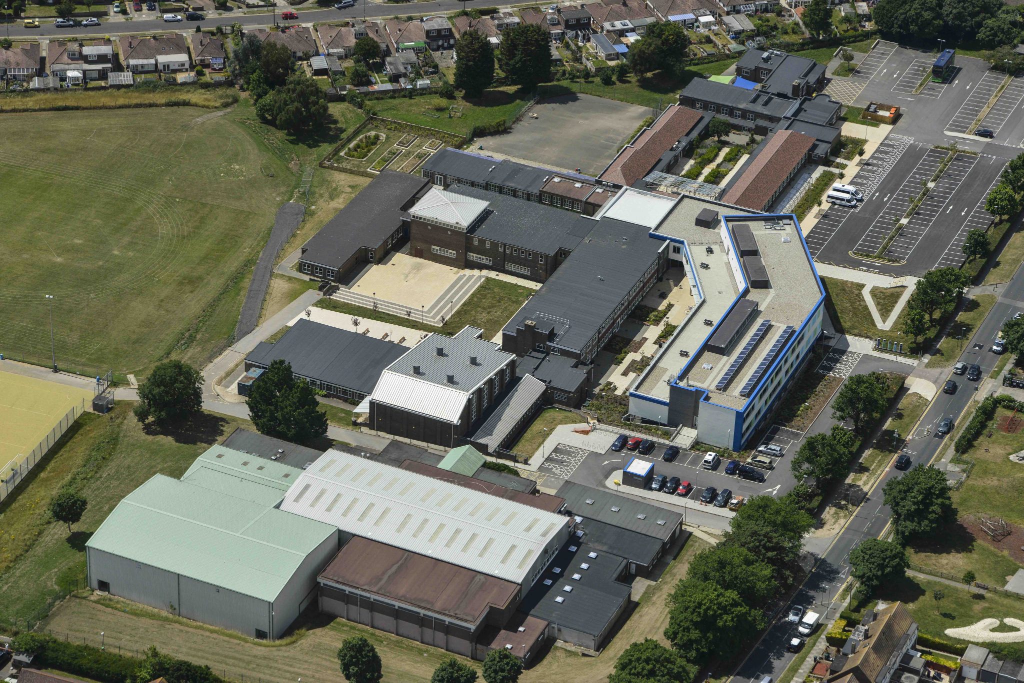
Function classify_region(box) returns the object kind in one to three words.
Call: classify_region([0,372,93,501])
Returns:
sports field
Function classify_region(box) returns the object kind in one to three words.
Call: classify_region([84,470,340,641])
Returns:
building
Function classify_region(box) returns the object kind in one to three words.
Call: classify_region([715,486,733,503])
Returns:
car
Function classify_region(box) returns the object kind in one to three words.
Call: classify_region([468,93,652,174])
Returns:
sports court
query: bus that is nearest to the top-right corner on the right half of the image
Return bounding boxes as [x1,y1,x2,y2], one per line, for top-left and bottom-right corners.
[931,48,953,82]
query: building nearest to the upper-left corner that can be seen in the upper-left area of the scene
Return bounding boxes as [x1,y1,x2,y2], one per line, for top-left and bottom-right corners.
[0,43,42,83]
